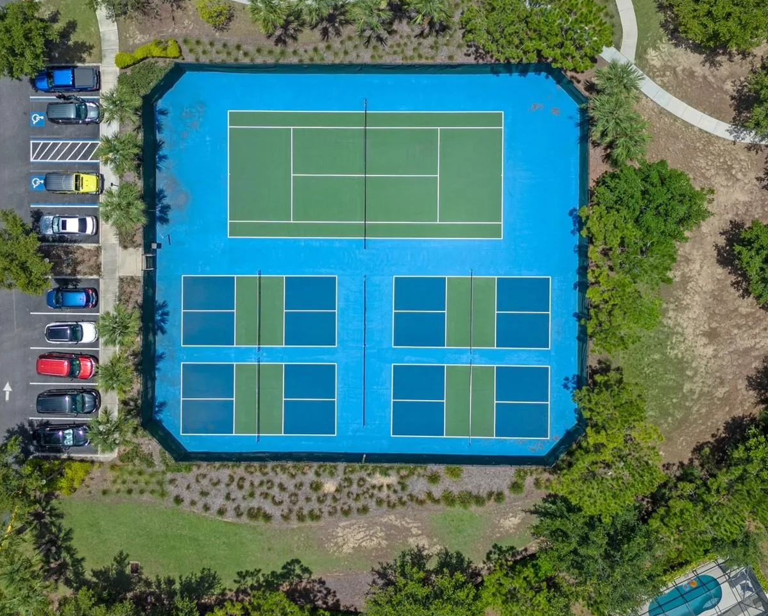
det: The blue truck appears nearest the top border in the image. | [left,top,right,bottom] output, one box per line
[35,64,101,93]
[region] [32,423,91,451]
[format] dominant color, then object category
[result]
black car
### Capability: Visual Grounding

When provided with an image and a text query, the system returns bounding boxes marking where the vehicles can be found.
[36,353,100,381]
[47,284,100,312]
[35,389,101,416]
[35,64,101,93]
[44,94,103,126]
[32,423,91,451]
[38,169,102,195]
[42,319,99,347]
[41,212,98,238]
